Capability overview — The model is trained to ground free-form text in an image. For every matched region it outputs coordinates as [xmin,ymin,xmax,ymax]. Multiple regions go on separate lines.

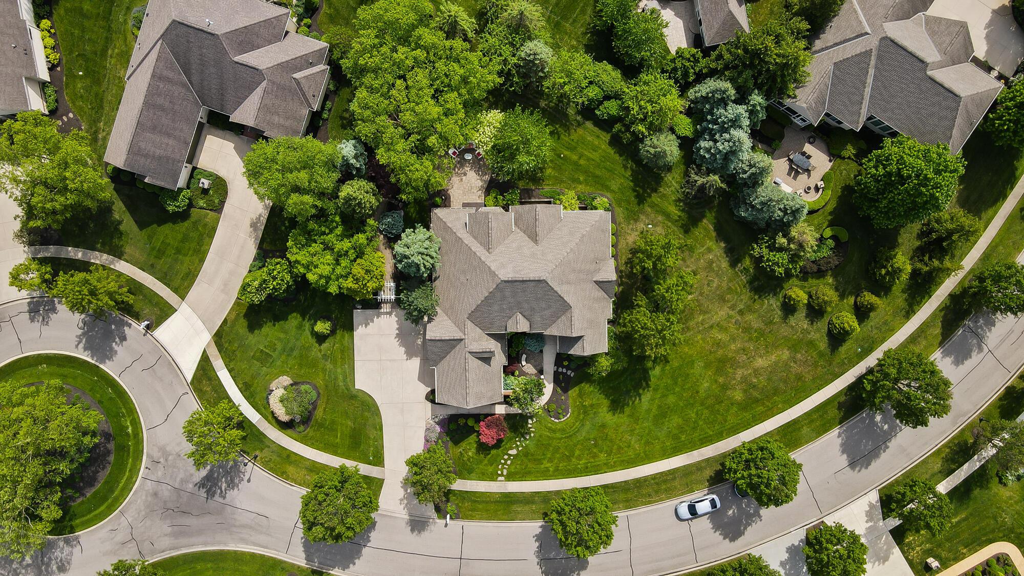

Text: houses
[694,0,750,49]
[426,204,616,409]
[103,0,340,191]
[763,0,1004,158]
[0,0,53,122]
